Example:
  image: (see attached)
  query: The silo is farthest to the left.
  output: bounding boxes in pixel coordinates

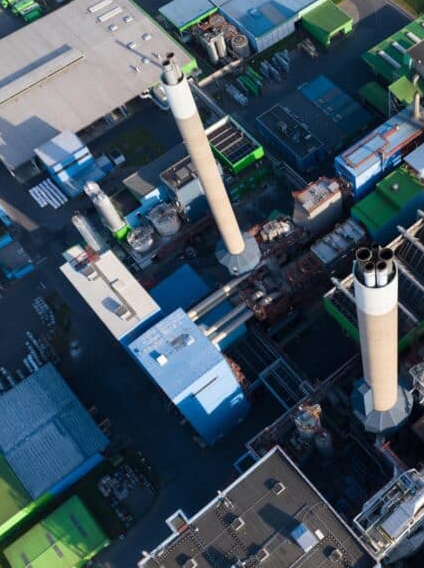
[67,213,104,254]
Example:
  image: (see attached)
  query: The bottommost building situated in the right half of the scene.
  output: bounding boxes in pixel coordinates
[141,448,378,568]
